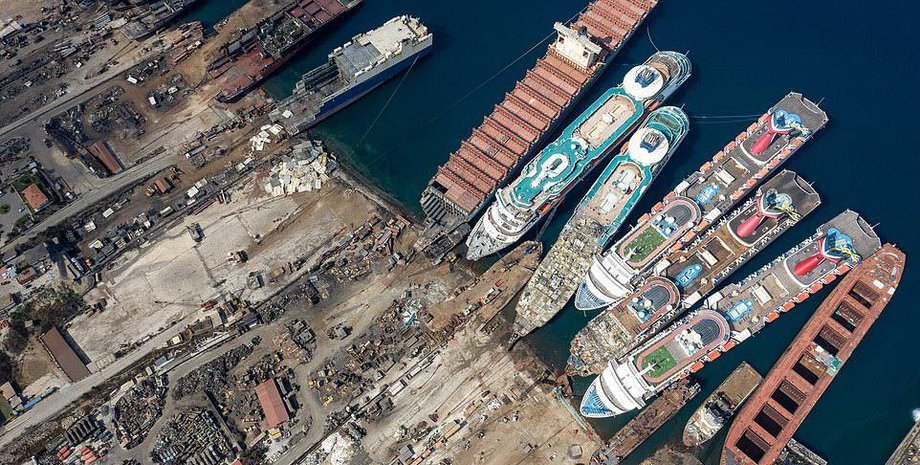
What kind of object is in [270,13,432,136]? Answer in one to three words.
ship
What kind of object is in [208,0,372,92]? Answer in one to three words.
ship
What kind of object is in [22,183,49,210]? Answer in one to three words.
house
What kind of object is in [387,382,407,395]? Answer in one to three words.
vehicle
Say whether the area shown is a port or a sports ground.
port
